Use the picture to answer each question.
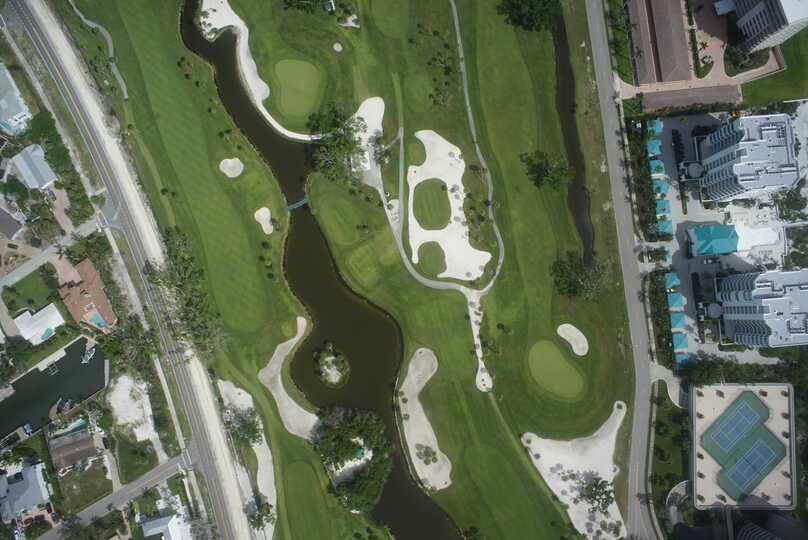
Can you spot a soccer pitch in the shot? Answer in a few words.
No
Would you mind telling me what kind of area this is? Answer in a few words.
golf course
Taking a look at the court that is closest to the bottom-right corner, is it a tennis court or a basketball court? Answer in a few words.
tennis court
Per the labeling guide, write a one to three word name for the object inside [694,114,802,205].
building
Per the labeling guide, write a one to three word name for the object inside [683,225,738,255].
building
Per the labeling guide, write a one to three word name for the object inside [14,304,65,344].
house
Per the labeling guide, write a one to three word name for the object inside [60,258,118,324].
house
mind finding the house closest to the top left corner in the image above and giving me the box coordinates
[0,62,34,133]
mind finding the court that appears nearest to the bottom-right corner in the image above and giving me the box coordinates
[716,425,787,501]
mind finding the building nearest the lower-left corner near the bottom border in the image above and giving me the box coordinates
[0,463,53,516]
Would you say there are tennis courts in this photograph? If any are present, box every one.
[701,391,769,466]
[716,425,787,501]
